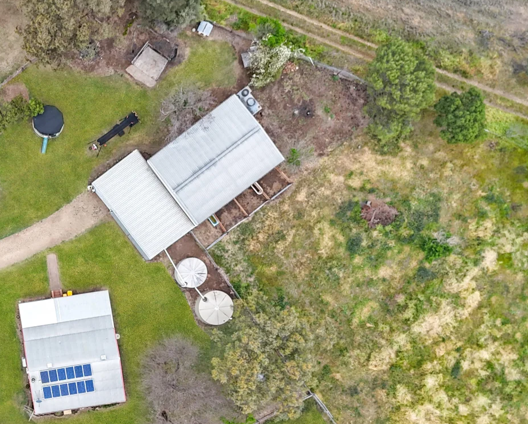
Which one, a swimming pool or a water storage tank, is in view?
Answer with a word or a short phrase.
water storage tank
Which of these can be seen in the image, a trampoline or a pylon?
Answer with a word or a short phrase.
trampoline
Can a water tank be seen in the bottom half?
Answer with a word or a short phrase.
Yes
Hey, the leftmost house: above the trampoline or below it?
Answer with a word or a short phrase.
below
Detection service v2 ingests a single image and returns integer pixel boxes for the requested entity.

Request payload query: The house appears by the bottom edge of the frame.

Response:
[18,290,127,414]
